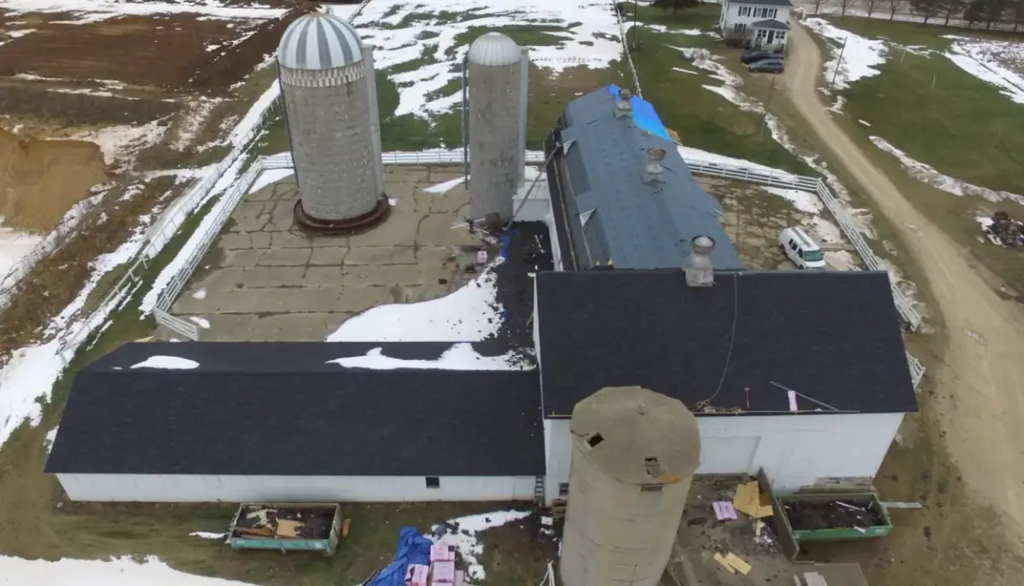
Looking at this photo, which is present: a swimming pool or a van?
van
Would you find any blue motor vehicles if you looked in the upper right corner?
No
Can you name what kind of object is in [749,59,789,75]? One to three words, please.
car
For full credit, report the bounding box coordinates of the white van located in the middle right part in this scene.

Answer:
[776,227,831,269]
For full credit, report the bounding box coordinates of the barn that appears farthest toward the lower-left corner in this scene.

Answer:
[45,343,544,501]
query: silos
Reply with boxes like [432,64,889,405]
[566,388,704,586]
[463,32,528,224]
[273,10,389,224]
